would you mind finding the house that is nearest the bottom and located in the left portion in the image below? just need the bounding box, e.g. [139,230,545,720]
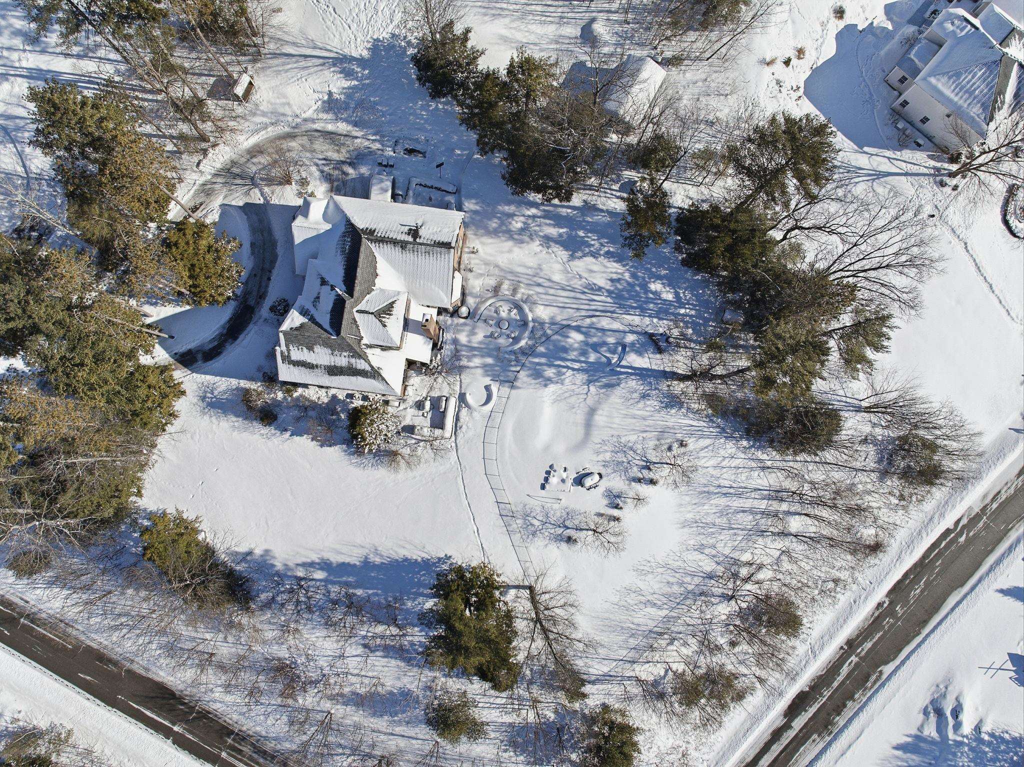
[279,196,465,396]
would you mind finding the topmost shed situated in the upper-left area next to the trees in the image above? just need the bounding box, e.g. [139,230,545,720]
[233,74,258,105]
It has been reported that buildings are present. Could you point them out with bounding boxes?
[233,74,258,105]
[601,55,667,136]
[885,0,1024,152]
[279,196,465,396]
